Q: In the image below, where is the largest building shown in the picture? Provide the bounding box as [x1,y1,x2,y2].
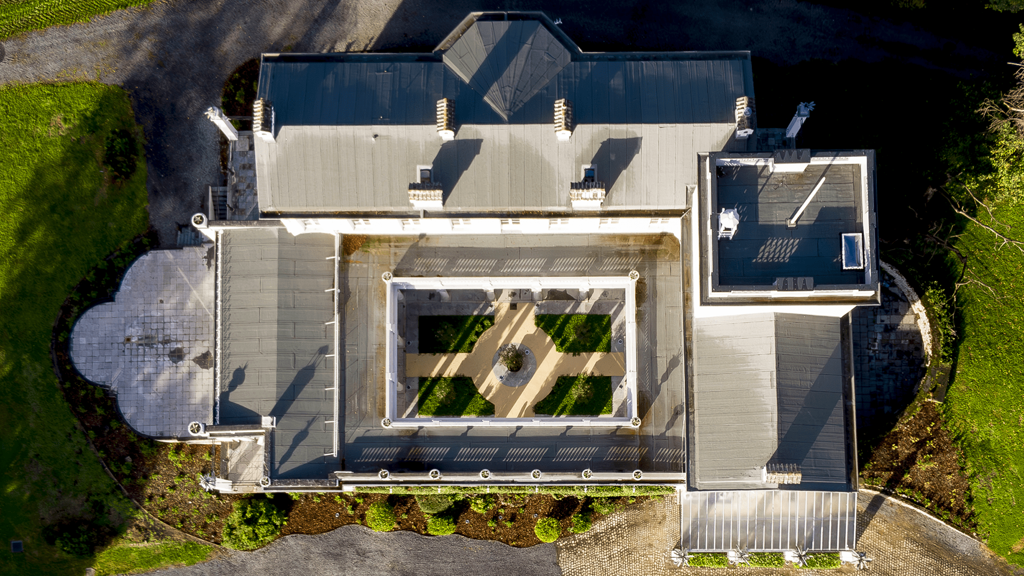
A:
[203,10,883,553]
